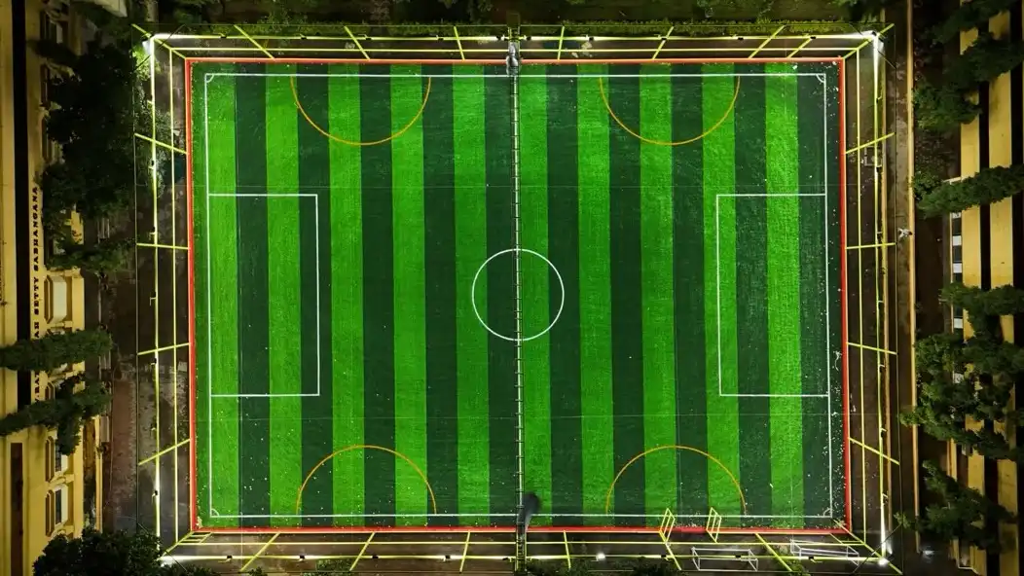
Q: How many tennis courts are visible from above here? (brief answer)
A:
0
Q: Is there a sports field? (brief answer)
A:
Yes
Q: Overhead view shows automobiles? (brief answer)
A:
No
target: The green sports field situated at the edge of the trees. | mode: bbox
[192,63,844,527]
